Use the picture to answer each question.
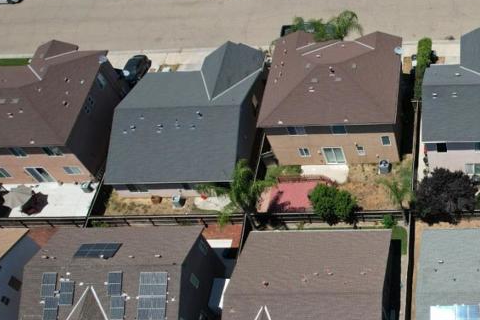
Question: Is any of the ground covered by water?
No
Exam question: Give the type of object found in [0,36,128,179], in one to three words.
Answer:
house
